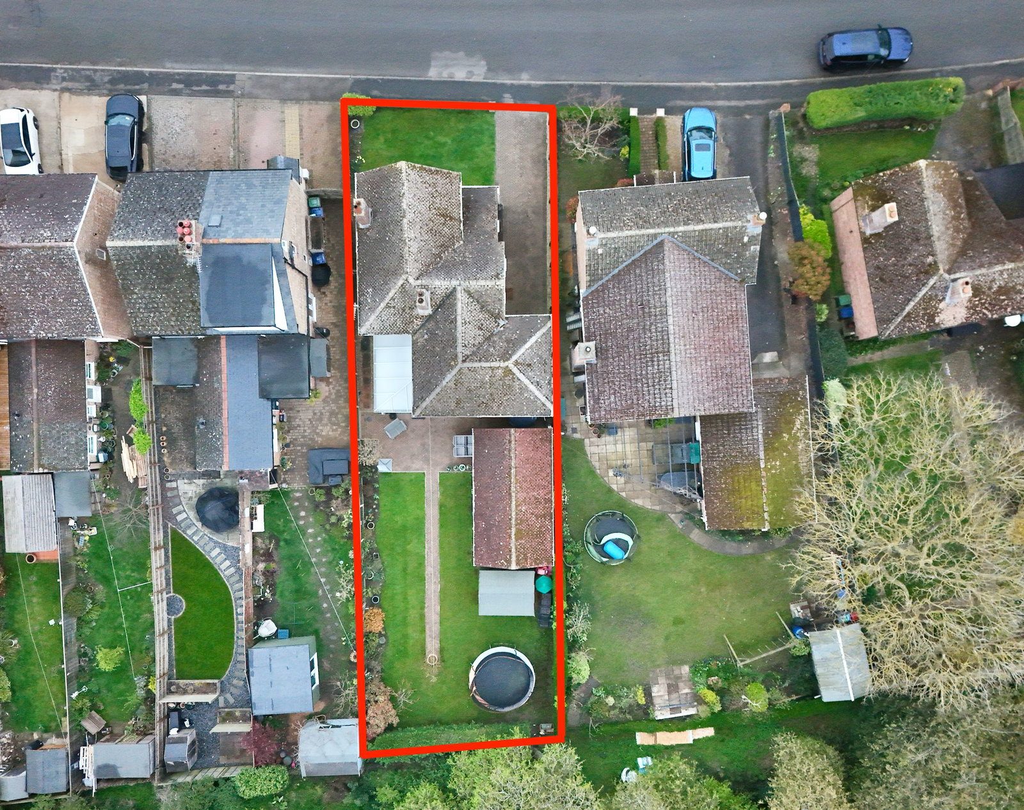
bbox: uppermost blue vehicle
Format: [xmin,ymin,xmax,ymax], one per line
[815,24,908,75]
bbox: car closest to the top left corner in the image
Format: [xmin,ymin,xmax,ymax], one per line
[0,107,44,172]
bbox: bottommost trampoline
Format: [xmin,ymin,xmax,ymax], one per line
[468,646,533,711]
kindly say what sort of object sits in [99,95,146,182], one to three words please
car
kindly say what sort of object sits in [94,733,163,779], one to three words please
shed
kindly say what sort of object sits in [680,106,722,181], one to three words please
car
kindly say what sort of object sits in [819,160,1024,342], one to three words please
house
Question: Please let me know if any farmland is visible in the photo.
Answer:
No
